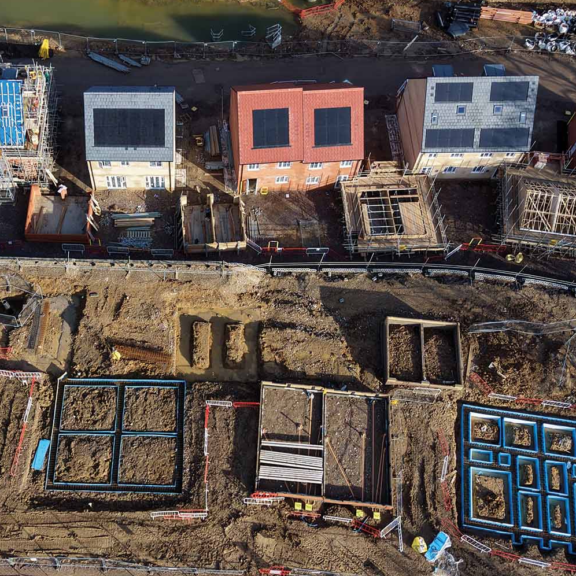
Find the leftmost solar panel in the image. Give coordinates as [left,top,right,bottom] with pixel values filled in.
[95,111,163,146]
